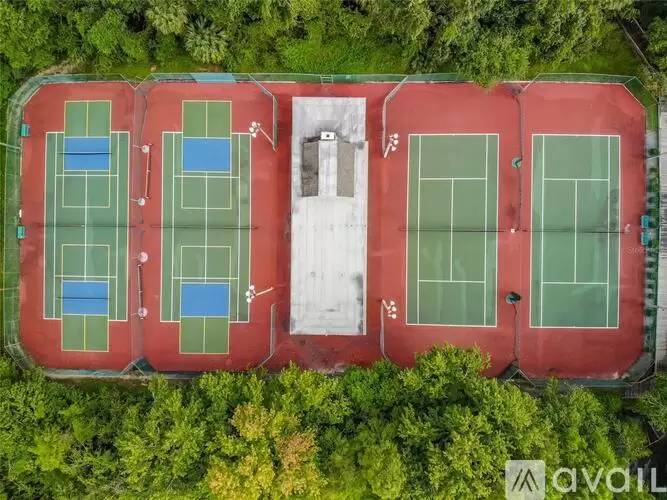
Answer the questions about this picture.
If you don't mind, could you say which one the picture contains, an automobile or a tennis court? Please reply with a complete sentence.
Of the two, only a tennis court appears.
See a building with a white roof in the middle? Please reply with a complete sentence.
Yes, a building with a white roof is visible in the middle.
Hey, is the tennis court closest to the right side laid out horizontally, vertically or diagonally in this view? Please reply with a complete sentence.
In this picture, the tennis court closest to the right side is oriented vertically.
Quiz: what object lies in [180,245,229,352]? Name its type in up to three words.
sports court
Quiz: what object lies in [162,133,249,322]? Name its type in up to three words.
tennis court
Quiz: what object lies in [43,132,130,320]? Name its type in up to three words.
tennis court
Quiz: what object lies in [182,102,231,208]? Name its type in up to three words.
sports court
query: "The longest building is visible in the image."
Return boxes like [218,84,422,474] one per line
[288,131,367,335]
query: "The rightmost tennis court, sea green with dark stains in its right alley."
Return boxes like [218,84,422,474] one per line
[530,135,621,328]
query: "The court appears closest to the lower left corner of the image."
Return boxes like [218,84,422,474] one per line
[62,243,109,350]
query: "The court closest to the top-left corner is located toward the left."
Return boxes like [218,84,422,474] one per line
[63,100,111,207]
